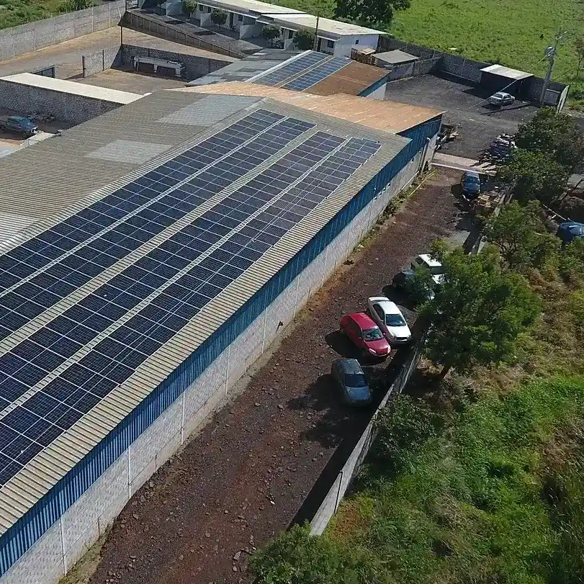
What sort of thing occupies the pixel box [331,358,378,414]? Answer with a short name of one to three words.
car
